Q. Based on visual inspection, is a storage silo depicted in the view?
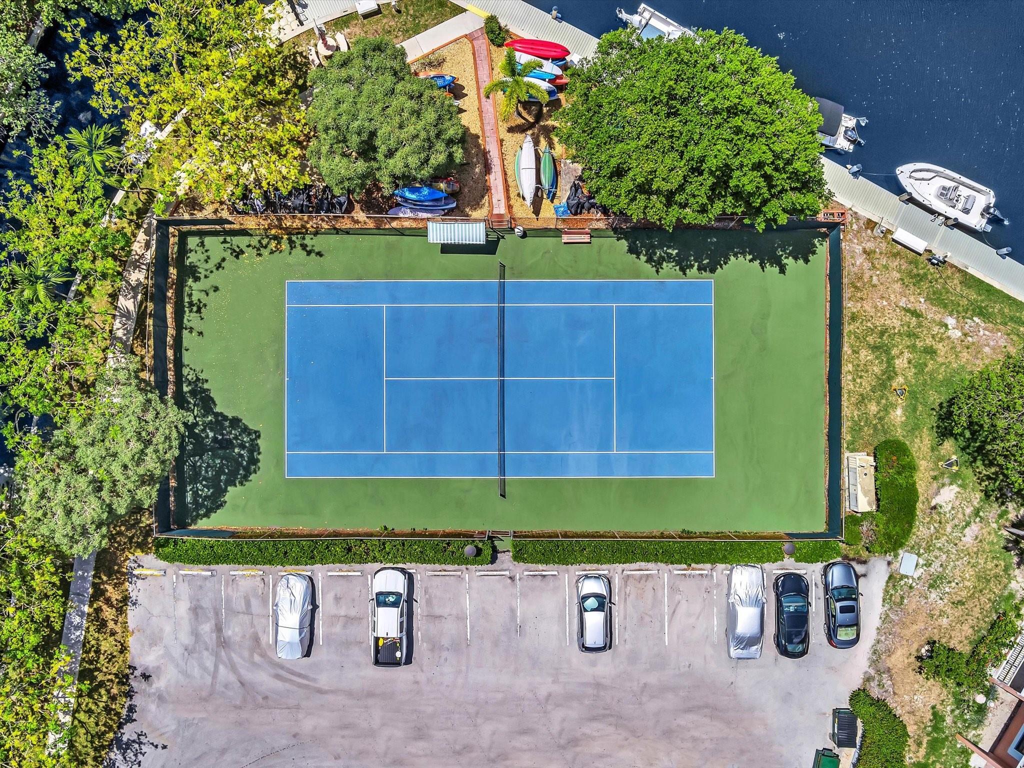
No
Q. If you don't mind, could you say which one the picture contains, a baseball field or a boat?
boat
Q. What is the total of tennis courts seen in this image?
1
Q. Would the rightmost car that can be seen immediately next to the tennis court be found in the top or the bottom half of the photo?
bottom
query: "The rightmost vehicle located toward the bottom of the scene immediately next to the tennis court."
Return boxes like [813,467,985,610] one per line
[818,560,863,648]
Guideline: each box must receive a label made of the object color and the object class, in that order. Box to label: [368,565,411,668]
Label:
white truck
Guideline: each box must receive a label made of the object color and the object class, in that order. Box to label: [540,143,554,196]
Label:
green boat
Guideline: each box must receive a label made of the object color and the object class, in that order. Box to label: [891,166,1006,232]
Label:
white boat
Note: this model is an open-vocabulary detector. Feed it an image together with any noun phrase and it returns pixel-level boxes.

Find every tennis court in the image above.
[173,229,826,531]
